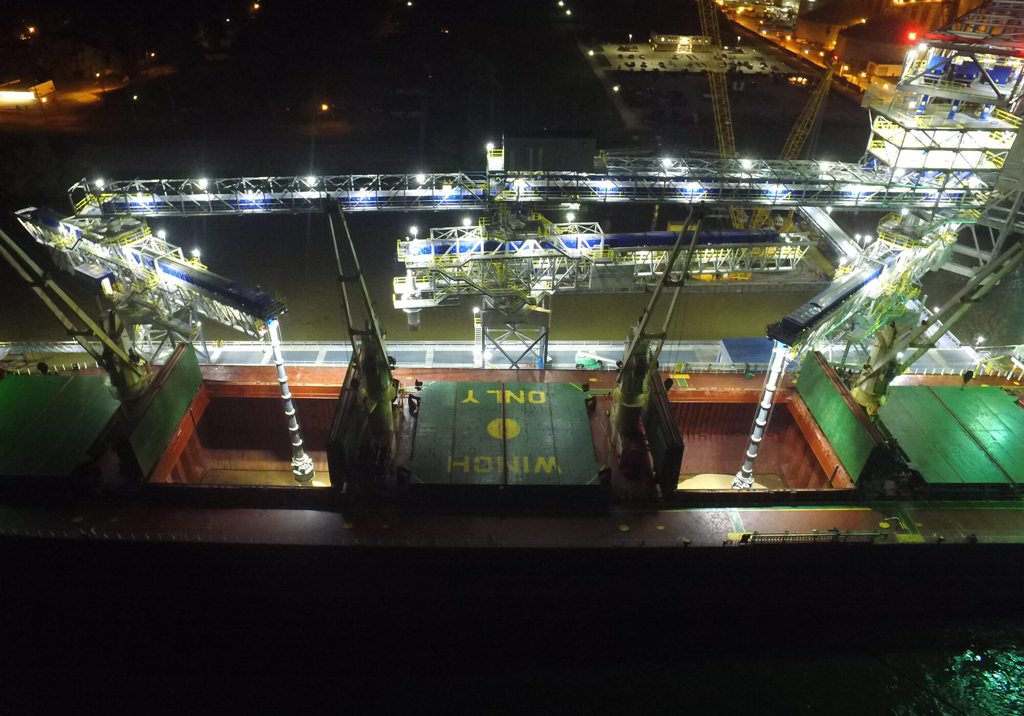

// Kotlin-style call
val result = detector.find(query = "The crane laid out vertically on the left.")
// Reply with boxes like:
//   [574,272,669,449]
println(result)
[325,198,404,452]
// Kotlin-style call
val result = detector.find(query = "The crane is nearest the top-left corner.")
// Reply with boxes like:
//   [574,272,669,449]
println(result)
[0,214,157,423]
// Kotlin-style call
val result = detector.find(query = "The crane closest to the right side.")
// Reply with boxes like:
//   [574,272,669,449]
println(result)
[845,226,1024,427]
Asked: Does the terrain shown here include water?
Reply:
Yes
